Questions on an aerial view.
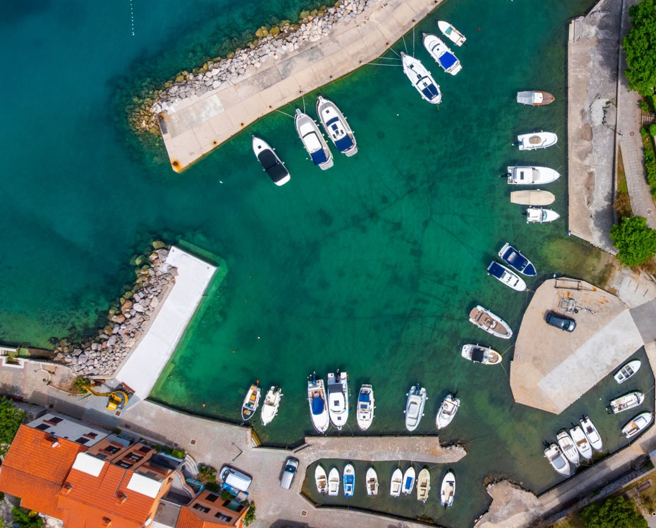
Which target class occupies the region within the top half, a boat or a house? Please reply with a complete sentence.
There is a boat within the top half.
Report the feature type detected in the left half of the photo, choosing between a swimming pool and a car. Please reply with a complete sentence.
Looking in the left half of the photo, you will find a car.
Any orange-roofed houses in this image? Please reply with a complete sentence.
Yes, there's an orange-roofed house here.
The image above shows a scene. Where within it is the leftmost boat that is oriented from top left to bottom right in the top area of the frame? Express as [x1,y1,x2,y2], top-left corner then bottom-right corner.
[242,124,290,189]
